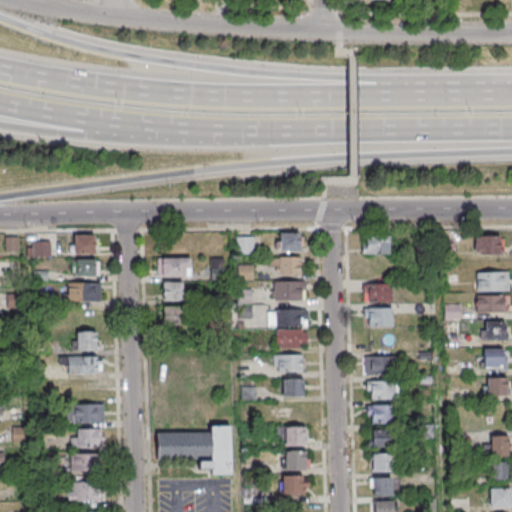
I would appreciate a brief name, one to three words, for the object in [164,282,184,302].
house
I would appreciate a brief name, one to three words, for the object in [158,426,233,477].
building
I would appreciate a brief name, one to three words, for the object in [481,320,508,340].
house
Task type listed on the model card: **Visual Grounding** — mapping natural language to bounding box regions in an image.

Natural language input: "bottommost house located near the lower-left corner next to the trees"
[68,484,104,508]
